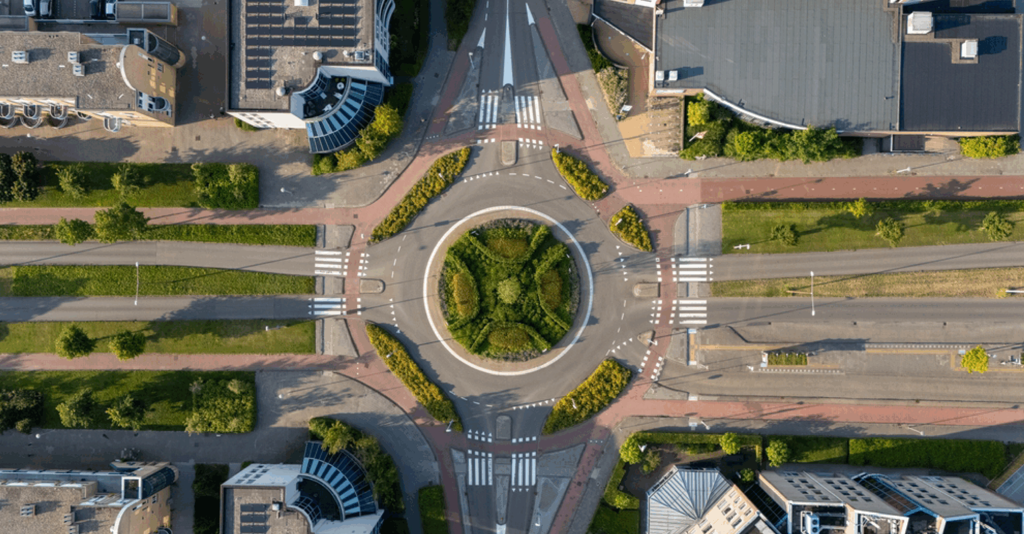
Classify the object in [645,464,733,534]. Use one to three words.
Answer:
house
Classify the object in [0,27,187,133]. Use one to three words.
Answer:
building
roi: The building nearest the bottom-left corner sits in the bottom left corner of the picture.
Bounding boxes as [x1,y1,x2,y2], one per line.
[0,457,182,534]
